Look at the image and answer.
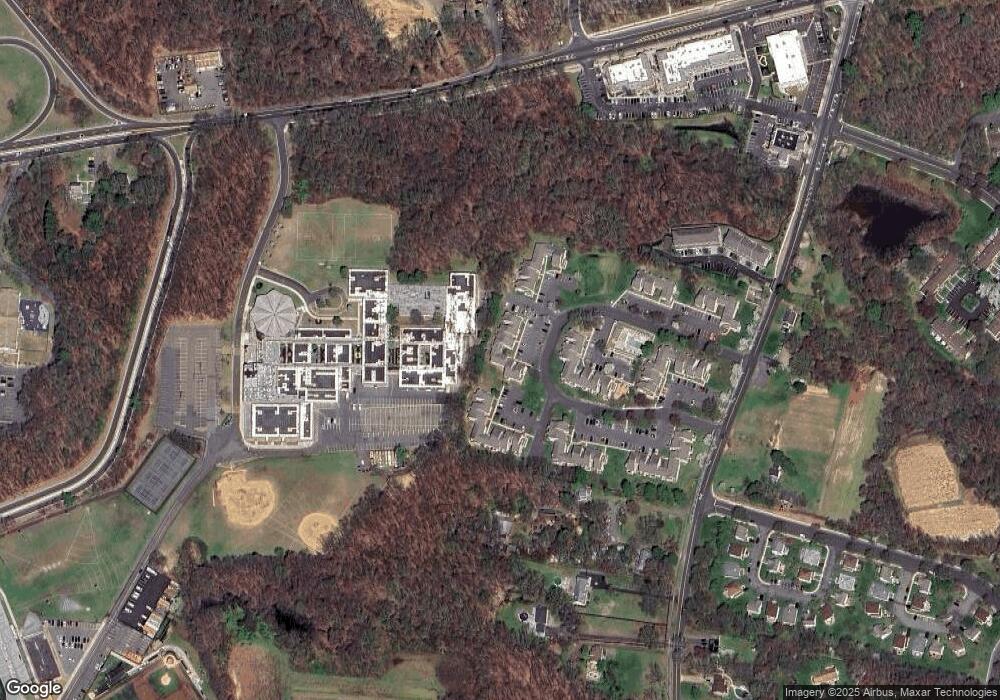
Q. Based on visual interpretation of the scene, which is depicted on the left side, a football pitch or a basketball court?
football pitch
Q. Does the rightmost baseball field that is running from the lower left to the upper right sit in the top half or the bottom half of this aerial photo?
bottom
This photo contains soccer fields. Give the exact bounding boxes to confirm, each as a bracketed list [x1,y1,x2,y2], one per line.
[0,494,153,606]
[289,206,399,268]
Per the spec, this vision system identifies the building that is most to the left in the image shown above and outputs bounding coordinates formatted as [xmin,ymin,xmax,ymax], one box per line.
[21,299,49,332]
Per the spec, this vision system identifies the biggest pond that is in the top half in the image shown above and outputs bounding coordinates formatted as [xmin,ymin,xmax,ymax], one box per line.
[845,185,938,253]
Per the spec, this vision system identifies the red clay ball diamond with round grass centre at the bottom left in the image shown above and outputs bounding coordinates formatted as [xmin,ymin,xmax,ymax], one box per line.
[115,647,210,700]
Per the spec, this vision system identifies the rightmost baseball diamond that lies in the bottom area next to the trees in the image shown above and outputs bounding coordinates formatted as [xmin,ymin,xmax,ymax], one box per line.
[284,453,386,556]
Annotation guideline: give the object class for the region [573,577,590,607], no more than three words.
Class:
house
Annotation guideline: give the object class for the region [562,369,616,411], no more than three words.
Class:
building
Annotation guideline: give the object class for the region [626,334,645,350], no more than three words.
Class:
swimming pool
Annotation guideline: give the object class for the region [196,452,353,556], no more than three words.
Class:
baseball field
